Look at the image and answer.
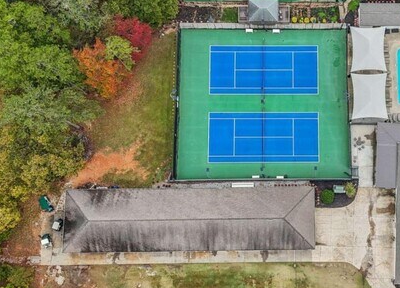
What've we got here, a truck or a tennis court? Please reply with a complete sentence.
Looking from above, you can make out a tennis court.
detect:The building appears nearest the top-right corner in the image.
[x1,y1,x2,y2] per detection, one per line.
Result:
[359,3,400,30]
